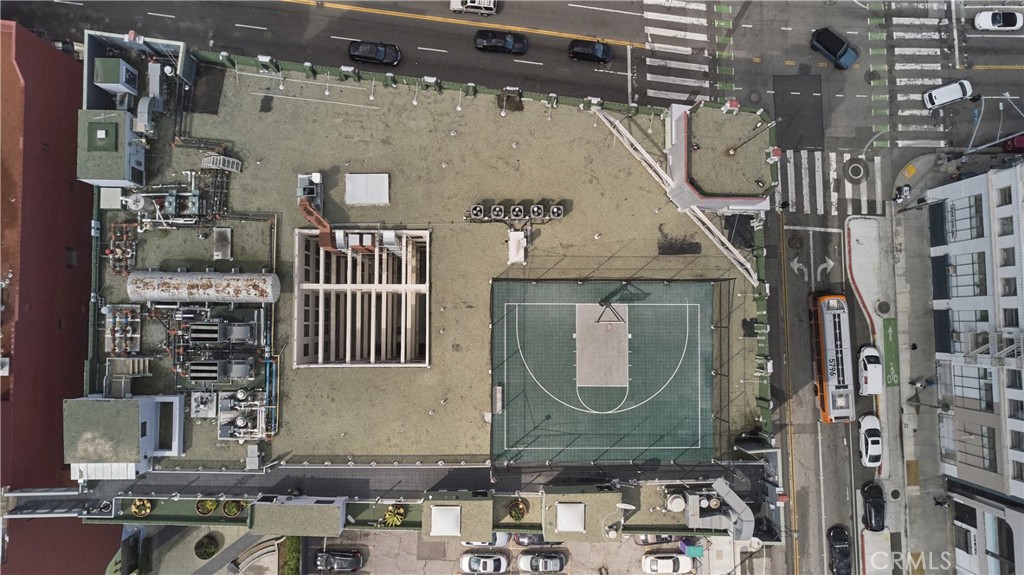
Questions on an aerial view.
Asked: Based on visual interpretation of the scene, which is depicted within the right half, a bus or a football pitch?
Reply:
bus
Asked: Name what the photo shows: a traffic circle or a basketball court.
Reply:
basketball court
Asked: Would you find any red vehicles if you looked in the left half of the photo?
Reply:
No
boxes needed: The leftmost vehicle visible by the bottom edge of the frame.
[316,548,364,574]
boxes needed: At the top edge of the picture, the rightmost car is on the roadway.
[972,8,1020,34]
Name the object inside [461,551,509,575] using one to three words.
car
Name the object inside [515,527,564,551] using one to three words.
car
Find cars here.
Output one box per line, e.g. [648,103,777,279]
[858,480,885,531]
[972,8,1020,34]
[853,347,881,395]
[517,550,565,575]
[1000,132,1024,156]
[823,523,850,575]
[461,527,509,551]
[515,527,564,551]
[316,548,364,574]
[450,0,498,19]
[567,38,612,65]
[348,40,401,69]
[641,552,692,575]
[811,27,855,69]
[921,77,972,113]
[47,39,84,64]
[474,30,527,56]
[461,551,509,575]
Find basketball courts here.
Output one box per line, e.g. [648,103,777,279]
[491,282,713,463]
